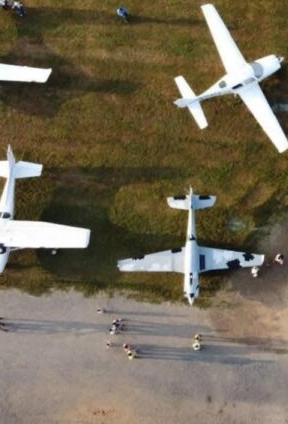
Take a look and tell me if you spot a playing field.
No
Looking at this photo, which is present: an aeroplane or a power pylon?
aeroplane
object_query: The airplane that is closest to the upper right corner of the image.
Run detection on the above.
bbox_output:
[171,4,287,152]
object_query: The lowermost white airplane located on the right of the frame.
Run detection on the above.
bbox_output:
[118,184,263,306]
